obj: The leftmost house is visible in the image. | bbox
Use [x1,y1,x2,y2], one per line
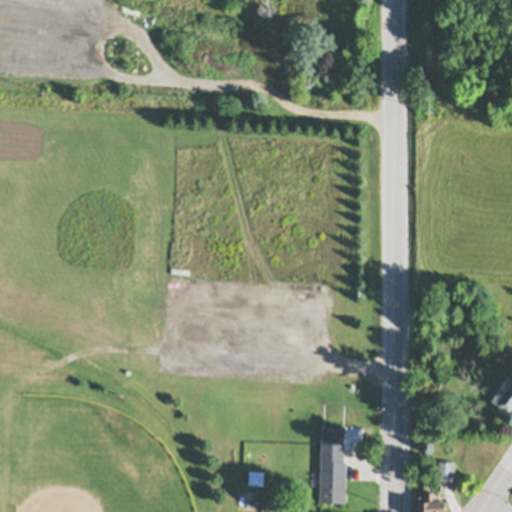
[320,422,347,506]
